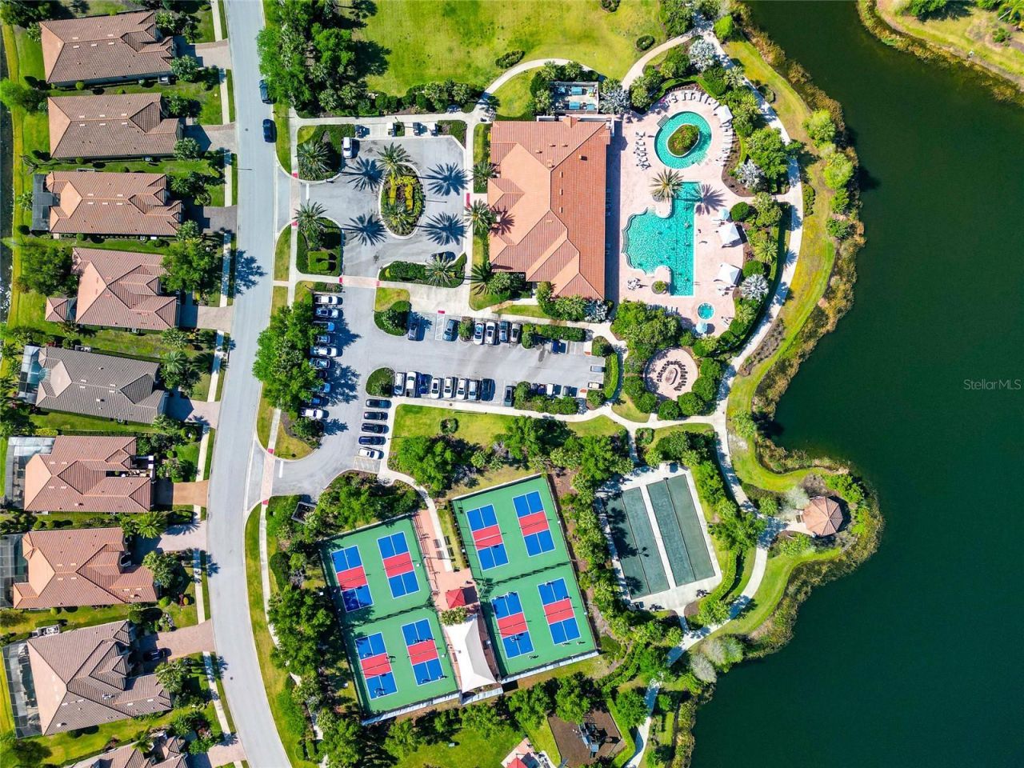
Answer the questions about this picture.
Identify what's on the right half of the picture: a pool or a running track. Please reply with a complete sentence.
The feature located on the right half of the picture is a pool.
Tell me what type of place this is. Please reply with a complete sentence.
This image shows a residential area.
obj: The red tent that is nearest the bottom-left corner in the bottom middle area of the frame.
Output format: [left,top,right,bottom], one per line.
[445,585,467,610]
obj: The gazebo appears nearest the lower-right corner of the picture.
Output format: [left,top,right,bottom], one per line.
[798,497,842,536]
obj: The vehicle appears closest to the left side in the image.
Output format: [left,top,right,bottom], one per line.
[144,647,167,660]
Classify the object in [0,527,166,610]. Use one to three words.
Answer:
house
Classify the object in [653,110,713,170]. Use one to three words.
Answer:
swimming pool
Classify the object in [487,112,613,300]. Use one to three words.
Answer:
building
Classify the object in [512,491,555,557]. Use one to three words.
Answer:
sports court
